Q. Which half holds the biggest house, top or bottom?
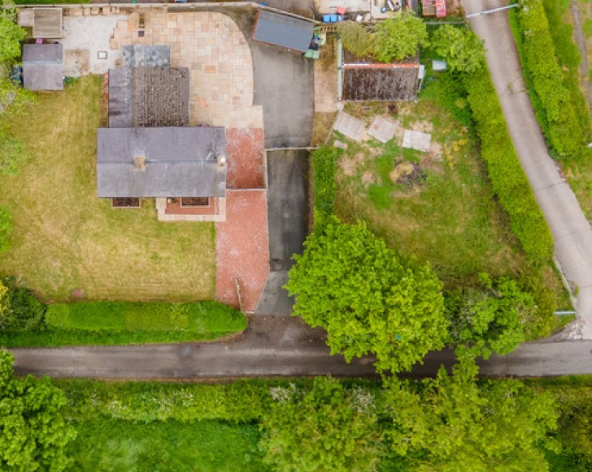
top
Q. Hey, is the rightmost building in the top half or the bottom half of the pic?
top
